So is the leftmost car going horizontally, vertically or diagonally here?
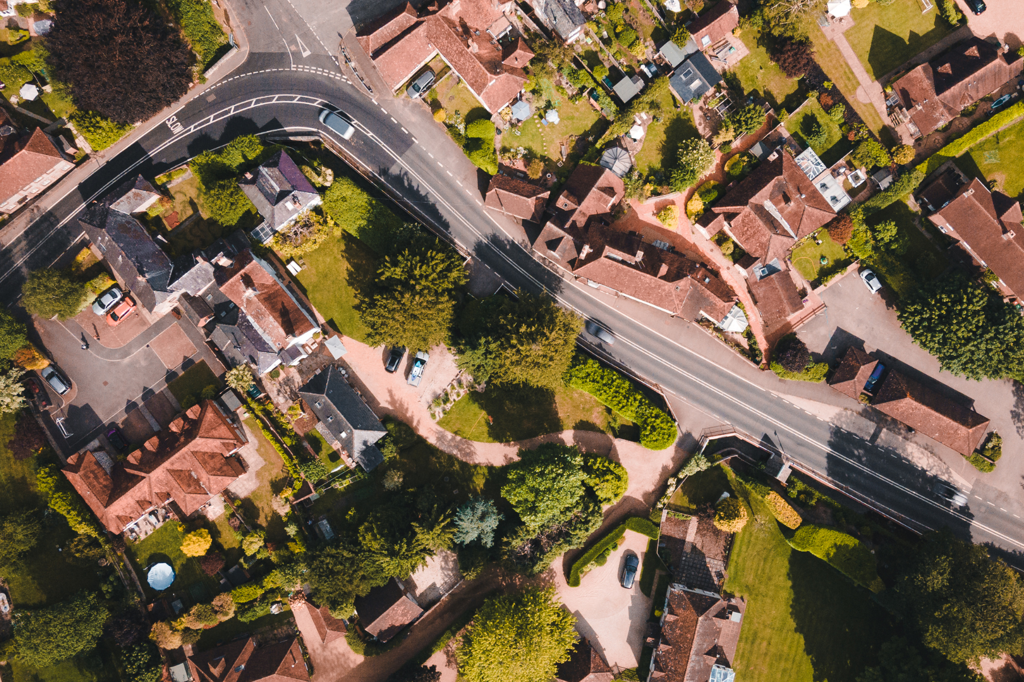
diagonally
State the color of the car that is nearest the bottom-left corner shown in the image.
black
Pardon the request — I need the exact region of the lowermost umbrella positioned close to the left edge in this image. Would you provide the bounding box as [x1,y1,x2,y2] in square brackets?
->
[22,84,42,102]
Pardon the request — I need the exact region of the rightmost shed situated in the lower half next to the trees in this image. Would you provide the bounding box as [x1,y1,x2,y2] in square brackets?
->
[864,368,990,457]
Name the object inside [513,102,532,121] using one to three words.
umbrella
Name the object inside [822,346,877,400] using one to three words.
shed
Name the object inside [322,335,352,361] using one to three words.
gazebo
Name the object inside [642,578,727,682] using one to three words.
house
